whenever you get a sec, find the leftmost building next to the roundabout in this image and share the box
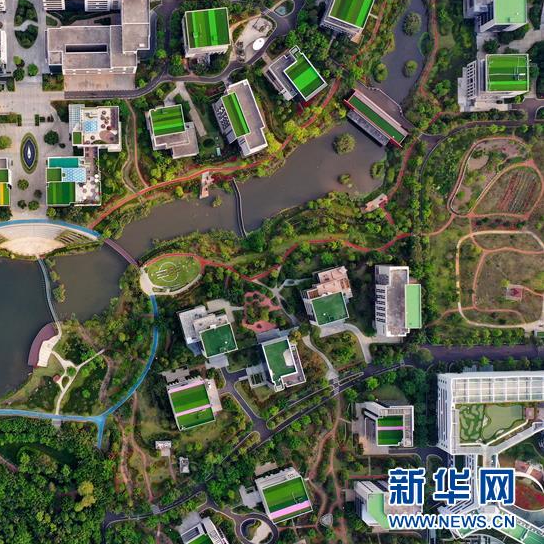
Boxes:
[180,511,230,544]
